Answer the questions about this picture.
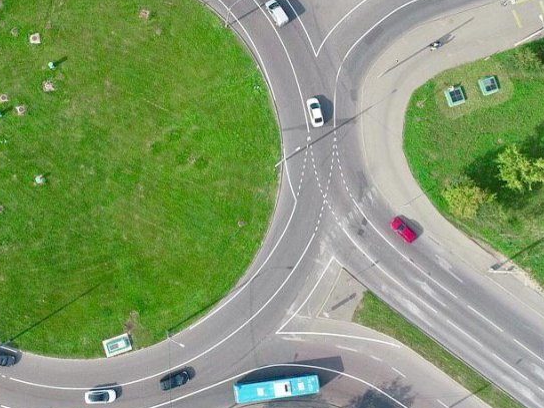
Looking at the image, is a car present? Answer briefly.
Yes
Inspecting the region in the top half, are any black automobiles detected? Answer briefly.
No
